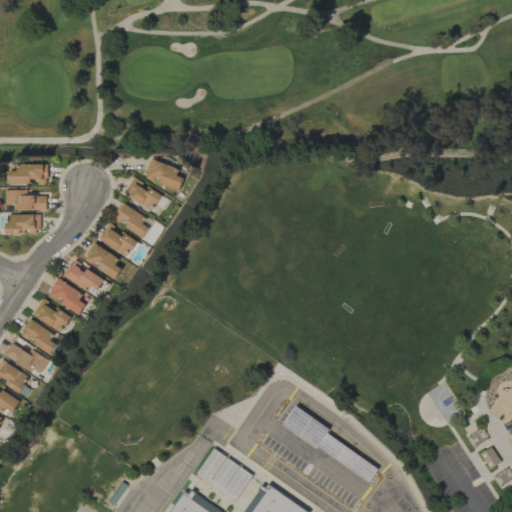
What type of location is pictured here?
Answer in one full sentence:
The area seen from above is a sports ground.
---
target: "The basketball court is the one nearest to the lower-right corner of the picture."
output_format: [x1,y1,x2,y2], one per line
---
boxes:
[420,384,462,426]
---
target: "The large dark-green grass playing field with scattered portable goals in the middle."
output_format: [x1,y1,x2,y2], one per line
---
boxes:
[22,165,512,512]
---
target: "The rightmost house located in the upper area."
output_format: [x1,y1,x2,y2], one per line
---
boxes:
[146,158,186,190]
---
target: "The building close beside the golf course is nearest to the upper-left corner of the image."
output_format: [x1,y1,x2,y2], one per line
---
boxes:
[6,164,48,185]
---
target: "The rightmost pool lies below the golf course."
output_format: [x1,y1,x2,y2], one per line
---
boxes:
[136,244,148,262]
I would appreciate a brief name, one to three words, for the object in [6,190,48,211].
house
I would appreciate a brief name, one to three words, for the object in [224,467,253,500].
building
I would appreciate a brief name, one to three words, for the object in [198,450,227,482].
building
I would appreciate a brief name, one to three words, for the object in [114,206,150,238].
house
